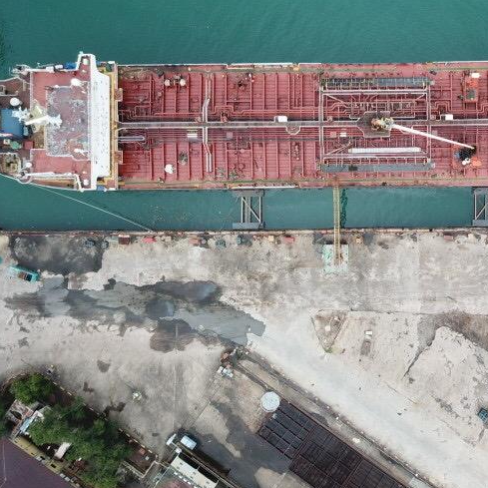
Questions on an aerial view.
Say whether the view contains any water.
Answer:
Yes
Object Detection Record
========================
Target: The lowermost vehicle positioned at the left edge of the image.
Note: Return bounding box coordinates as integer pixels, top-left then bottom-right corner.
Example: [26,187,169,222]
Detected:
[6,264,37,284]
